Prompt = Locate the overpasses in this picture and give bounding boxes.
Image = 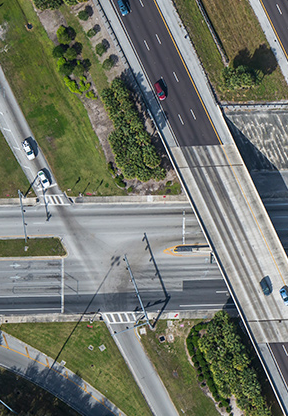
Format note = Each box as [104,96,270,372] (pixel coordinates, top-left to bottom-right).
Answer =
[140,101,288,378]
